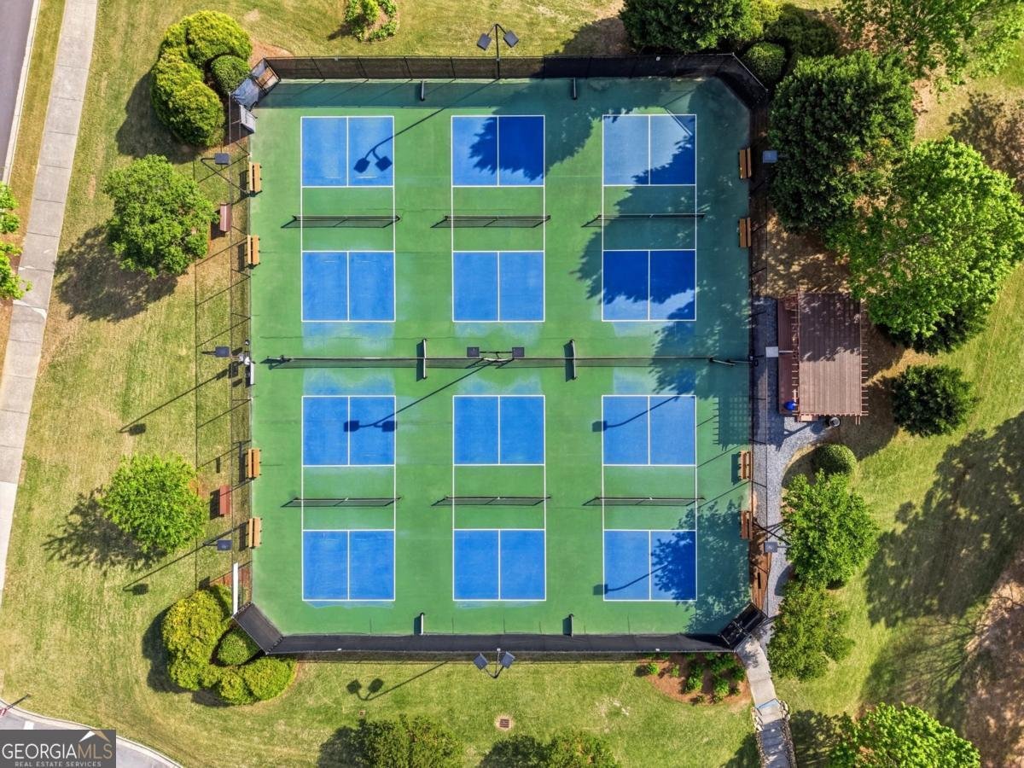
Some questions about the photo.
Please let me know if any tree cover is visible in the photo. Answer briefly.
Yes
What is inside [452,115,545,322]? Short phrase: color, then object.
blue sports court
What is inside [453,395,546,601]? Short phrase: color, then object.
blue sports court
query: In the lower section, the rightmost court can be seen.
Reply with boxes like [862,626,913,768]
[603,395,697,601]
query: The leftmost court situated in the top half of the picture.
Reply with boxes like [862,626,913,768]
[301,116,395,322]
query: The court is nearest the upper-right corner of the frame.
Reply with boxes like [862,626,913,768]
[602,114,697,321]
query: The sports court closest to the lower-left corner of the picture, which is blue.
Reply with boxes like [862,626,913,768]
[302,396,396,601]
